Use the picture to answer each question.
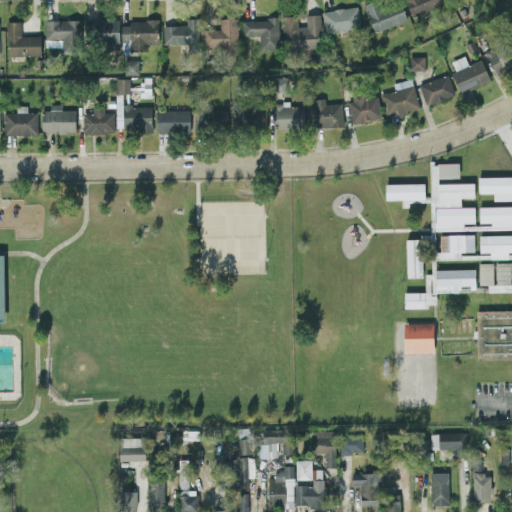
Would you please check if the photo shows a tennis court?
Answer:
Yes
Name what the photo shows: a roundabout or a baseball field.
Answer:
baseball field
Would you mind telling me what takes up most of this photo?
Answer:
grass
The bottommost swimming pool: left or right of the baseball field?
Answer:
on its left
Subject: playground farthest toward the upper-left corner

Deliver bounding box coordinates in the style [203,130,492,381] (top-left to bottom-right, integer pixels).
[0,200,44,240]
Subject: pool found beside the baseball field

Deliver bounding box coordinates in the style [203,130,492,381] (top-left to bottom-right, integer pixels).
[0,335,22,400]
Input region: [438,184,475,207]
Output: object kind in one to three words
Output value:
building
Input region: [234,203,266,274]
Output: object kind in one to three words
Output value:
tennis court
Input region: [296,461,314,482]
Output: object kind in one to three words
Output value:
shed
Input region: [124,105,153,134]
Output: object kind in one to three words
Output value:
house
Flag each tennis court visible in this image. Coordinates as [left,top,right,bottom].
[202,203,234,274]
[234,203,266,274]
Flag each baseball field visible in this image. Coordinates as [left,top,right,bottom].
[50,294,154,398]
